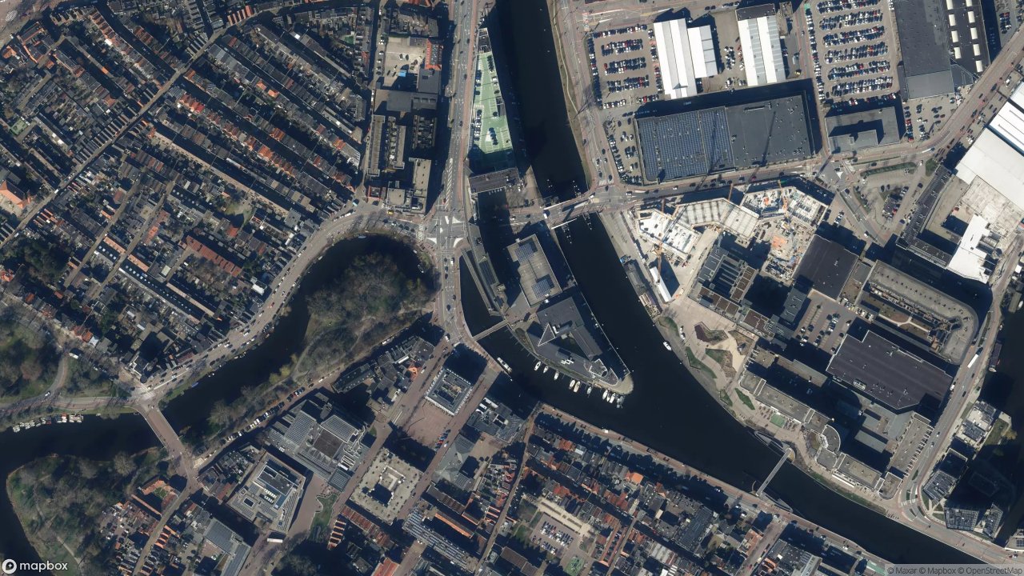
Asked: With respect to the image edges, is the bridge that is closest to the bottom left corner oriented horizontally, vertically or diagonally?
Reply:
diagonally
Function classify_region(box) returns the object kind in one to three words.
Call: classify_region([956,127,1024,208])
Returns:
building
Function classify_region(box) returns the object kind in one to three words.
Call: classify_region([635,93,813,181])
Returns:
building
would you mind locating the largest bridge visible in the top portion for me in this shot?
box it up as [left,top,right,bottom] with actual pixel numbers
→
[542,189,597,229]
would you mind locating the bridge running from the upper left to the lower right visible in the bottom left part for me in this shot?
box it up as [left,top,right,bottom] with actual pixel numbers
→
[134,395,193,466]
